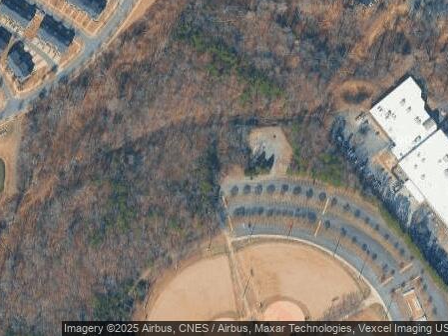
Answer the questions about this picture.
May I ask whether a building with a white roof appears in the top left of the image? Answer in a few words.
No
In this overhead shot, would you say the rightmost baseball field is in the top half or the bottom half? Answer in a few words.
bottom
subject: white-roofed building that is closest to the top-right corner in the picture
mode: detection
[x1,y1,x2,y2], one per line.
[369,76,436,159]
